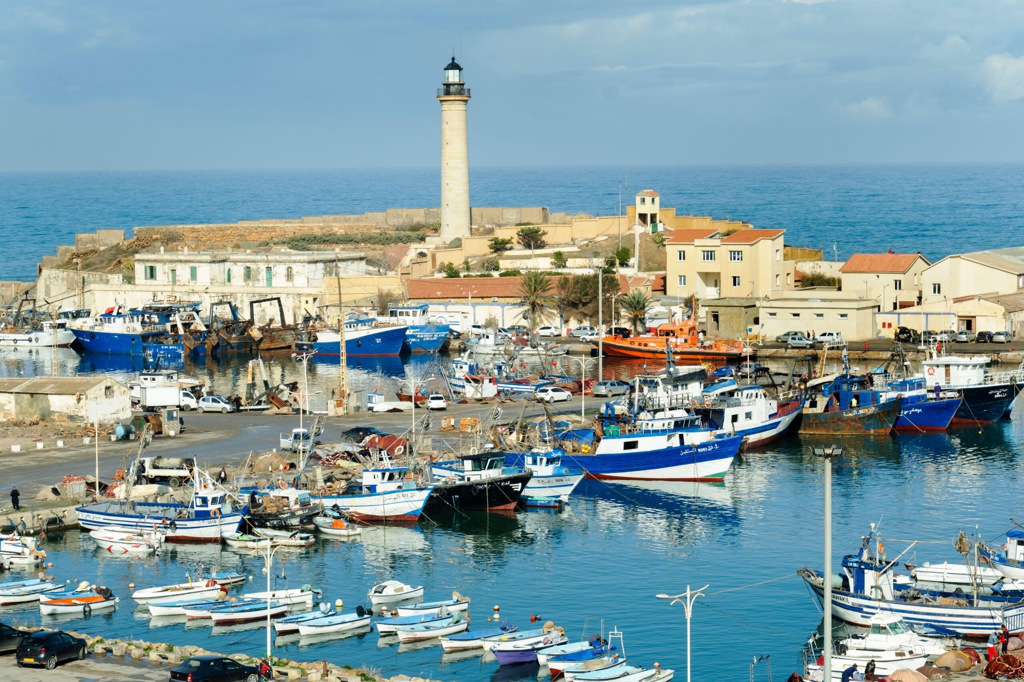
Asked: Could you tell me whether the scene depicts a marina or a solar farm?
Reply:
marina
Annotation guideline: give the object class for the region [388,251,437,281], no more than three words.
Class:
shed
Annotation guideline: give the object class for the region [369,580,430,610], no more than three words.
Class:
boat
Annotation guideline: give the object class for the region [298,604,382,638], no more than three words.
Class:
boat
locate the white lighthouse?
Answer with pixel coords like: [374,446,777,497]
[437,57,472,235]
